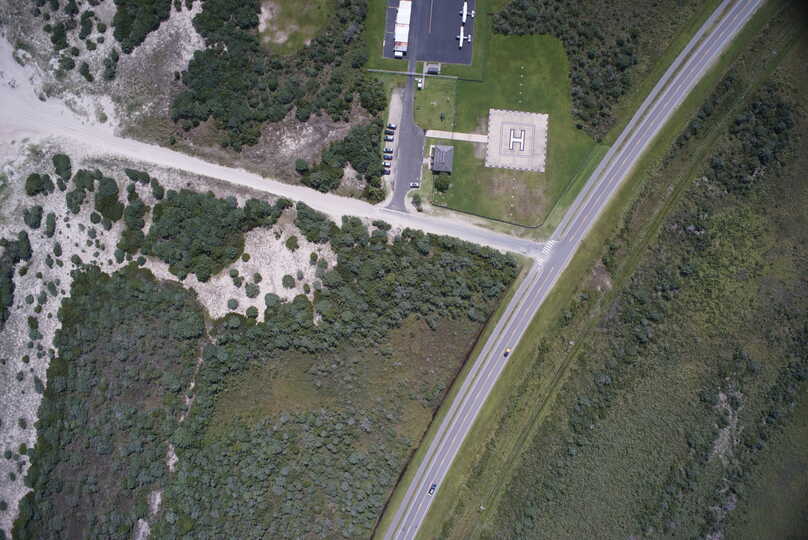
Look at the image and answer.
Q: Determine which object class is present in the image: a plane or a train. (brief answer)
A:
plane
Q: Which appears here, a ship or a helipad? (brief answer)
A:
helipad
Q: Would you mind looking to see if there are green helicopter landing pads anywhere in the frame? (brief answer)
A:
No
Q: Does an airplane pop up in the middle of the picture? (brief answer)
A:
No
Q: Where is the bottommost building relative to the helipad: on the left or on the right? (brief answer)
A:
left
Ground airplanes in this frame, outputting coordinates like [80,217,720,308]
[455,26,472,47]
[458,2,475,22]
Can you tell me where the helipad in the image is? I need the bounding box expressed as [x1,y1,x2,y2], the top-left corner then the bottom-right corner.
[485,108,549,172]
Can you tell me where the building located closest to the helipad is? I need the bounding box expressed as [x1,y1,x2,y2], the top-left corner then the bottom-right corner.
[432,145,454,171]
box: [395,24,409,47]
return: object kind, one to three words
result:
hangar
